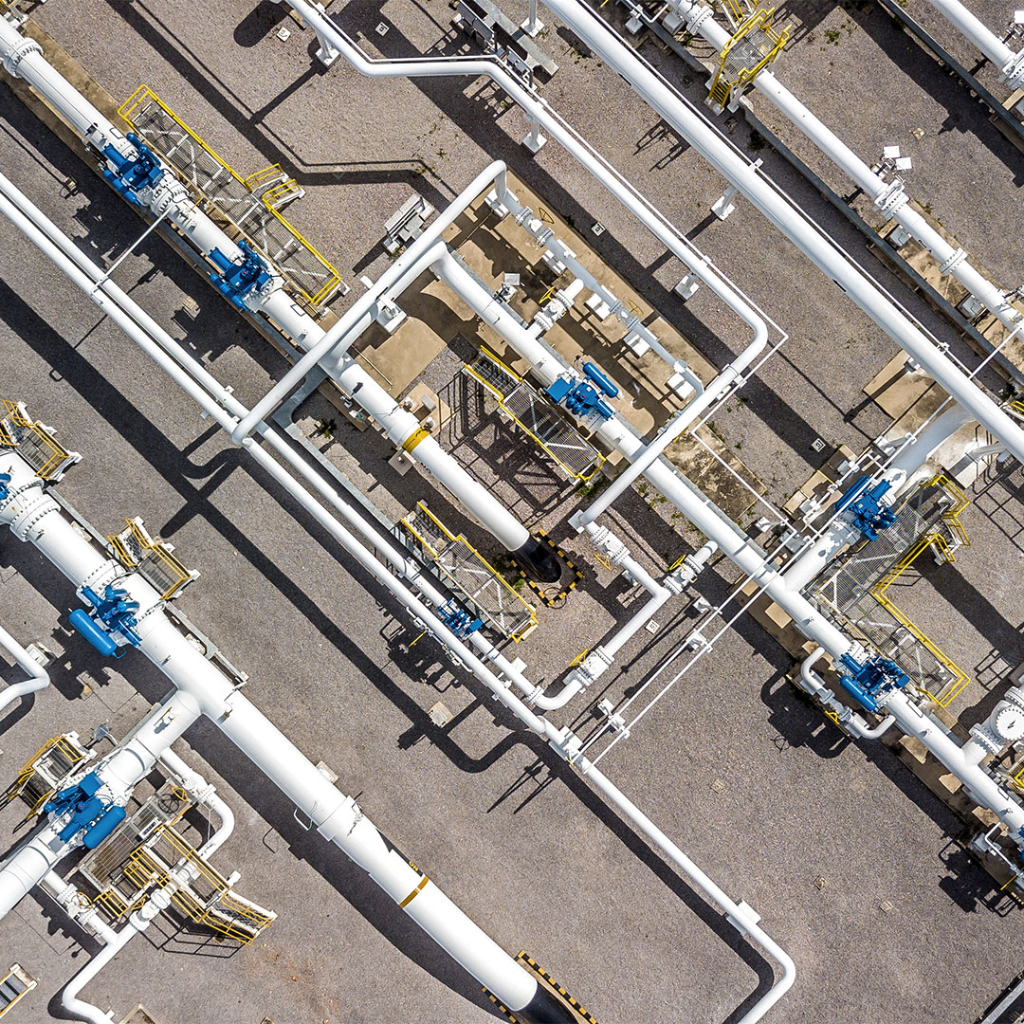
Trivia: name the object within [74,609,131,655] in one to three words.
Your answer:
storage tank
